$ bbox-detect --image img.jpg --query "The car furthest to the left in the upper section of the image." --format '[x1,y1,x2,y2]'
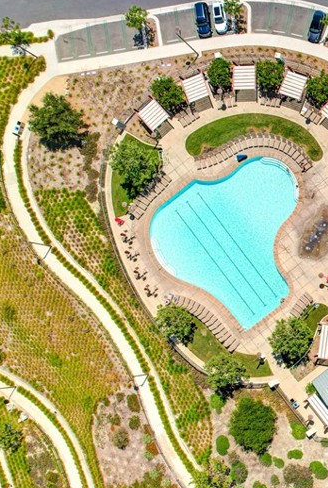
[193,2,215,39]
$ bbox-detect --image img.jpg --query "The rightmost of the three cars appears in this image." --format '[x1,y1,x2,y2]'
[307,10,325,43]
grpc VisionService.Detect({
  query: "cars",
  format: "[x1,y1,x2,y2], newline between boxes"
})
[209,2,228,35]
[193,2,215,39]
[307,10,325,43]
